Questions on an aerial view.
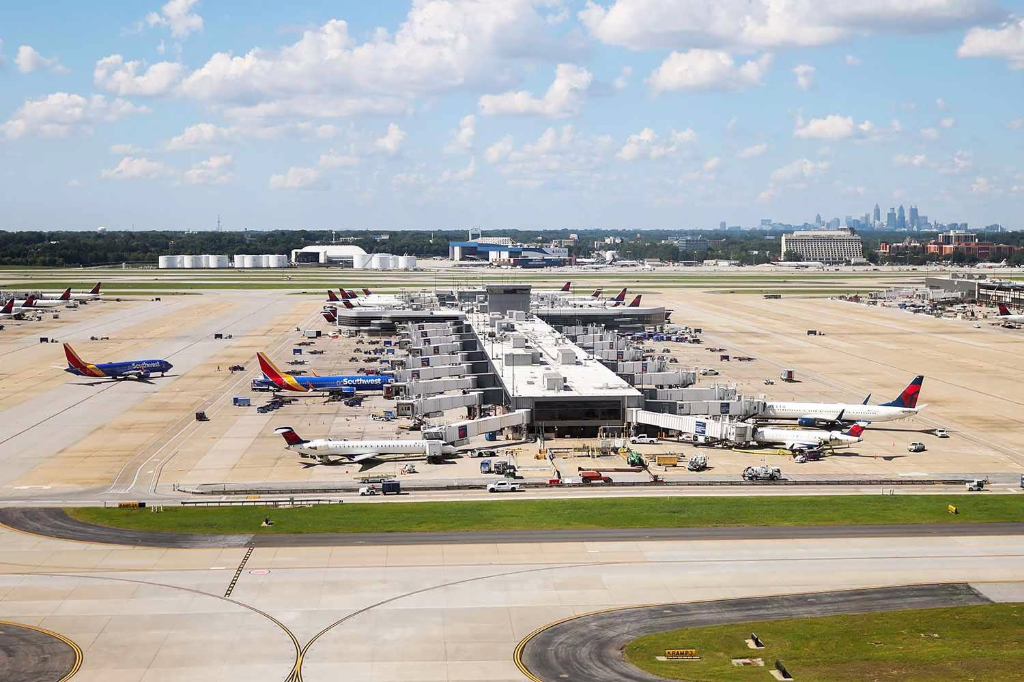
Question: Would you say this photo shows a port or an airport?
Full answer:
This looks like an airport.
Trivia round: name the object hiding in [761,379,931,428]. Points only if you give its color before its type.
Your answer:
white airplane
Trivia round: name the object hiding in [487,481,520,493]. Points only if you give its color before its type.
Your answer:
white vehicle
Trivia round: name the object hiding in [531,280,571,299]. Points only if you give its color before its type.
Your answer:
white airplane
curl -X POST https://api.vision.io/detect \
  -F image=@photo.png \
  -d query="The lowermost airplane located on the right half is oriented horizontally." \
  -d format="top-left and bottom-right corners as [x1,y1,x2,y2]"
[754,432,876,460]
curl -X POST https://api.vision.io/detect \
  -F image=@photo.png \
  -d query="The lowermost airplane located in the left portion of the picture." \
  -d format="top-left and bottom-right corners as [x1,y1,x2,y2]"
[271,427,456,468]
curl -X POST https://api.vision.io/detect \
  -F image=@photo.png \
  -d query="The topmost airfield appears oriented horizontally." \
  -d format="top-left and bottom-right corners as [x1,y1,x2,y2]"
[0,267,1024,322]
